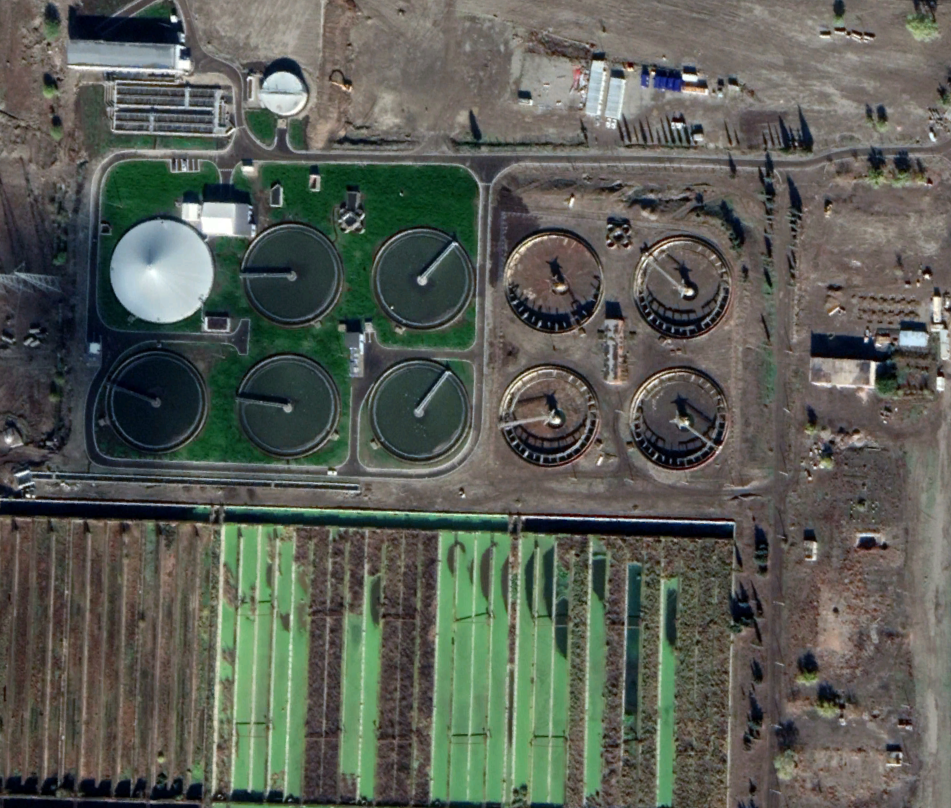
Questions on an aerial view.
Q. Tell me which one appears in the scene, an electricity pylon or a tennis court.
electricity pylon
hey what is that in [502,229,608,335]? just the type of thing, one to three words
storage tank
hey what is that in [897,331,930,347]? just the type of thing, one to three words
house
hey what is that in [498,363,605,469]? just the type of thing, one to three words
storage tank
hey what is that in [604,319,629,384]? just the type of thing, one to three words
building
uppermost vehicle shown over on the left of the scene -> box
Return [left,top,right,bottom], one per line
[332,79,356,93]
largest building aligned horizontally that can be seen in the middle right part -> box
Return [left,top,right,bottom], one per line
[808,357,876,389]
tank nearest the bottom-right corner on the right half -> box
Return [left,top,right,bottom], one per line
[629,366,733,471]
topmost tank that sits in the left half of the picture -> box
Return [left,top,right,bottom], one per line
[258,71,309,118]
